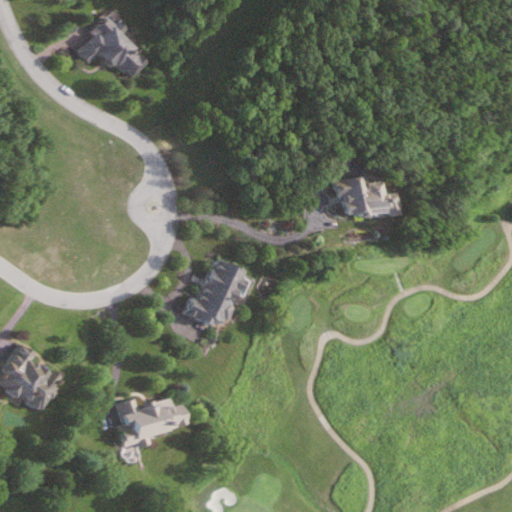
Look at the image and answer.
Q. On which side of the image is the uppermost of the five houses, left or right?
left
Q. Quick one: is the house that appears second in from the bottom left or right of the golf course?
on its left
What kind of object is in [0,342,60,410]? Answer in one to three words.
house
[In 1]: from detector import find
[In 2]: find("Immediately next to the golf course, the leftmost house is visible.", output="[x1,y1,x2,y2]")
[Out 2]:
[114,395,192,448]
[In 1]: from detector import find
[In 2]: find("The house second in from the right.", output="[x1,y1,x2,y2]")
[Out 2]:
[180,262,256,326]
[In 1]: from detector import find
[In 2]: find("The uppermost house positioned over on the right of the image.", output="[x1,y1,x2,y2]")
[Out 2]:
[328,174,403,222]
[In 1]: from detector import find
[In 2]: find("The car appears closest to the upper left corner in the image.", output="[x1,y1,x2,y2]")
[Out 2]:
[58,84,74,97]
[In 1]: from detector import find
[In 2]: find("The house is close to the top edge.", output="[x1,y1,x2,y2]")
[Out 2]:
[76,8,142,70]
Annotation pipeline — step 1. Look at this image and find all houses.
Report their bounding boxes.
[0,342,60,410]
[328,174,403,222]
[180,262,256,326]
[114,395,192,448]
[76,8,142,70]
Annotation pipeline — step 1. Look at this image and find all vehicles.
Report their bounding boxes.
[100,418,108,431]
[324,221,337,228]
[58,84,74,97]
